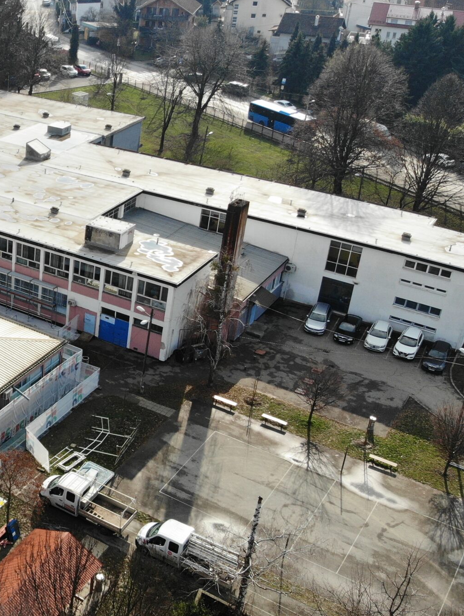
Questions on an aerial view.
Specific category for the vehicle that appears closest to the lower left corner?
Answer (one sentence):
I'd say the vehicle that appears closest to the lower left corner is a truck.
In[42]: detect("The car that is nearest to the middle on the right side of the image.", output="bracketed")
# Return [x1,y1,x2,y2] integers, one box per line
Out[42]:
[307,297,340,330]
